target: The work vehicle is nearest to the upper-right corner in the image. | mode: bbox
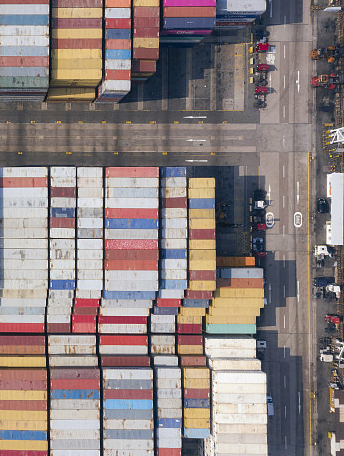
[314,44,344,60]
